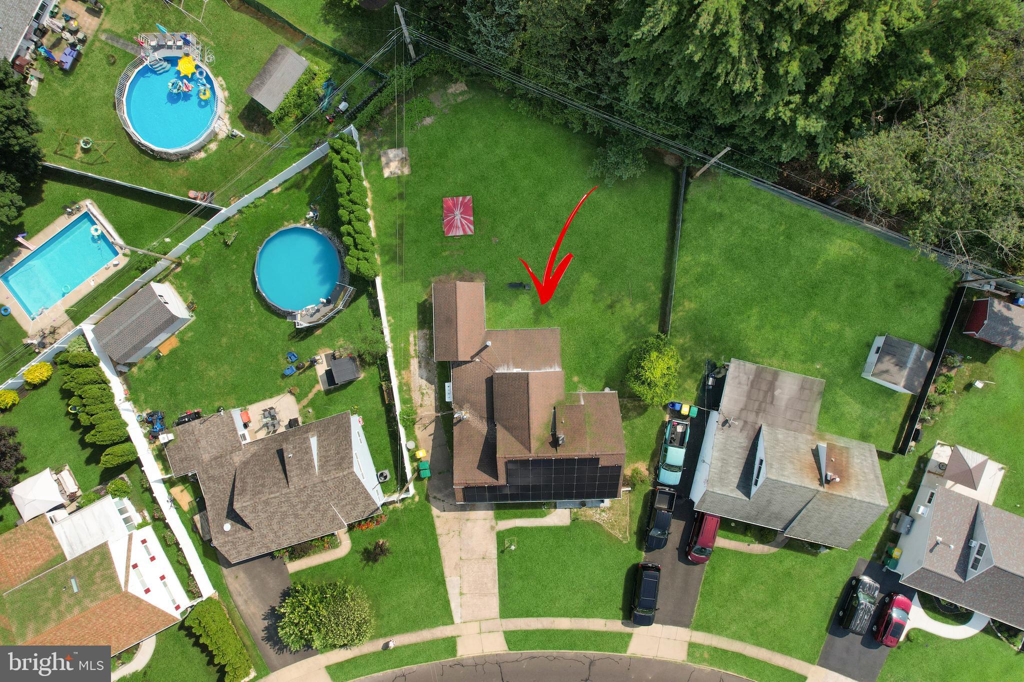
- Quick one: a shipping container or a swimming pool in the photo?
swimming pool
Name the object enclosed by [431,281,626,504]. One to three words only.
house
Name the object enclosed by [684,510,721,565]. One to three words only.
car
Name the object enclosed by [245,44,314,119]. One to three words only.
shed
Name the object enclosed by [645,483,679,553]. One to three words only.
truck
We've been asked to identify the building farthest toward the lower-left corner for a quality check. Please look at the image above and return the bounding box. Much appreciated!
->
[0,490,196,682]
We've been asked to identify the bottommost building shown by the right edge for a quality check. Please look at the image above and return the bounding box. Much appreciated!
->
[883,482,1024,632]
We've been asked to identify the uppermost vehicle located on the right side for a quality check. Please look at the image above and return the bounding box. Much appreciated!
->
[656,417,691,487]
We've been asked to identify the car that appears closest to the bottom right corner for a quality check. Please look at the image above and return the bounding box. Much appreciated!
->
[870,587,913,649]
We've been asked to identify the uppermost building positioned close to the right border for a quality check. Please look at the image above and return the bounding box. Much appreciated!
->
[958,297,1024,354]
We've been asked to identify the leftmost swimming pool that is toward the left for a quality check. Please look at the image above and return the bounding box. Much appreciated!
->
[0,210,120,321]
